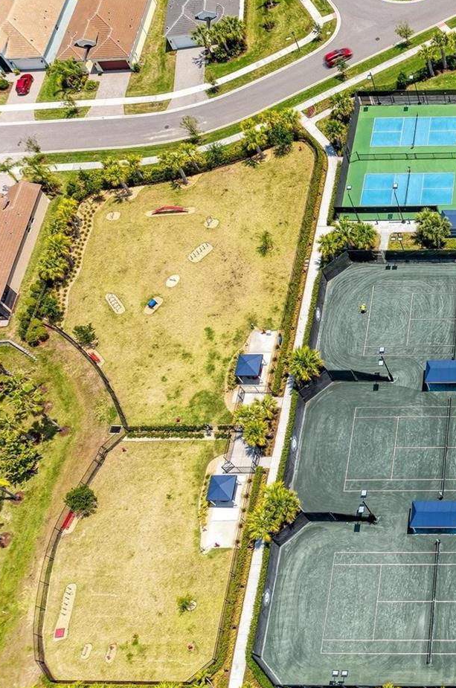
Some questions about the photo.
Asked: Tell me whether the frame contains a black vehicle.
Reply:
No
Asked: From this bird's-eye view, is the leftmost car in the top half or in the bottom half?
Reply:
top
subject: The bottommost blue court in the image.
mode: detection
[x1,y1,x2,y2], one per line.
[334,159,456,218]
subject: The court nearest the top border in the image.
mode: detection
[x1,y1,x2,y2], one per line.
[348,105,456,160]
